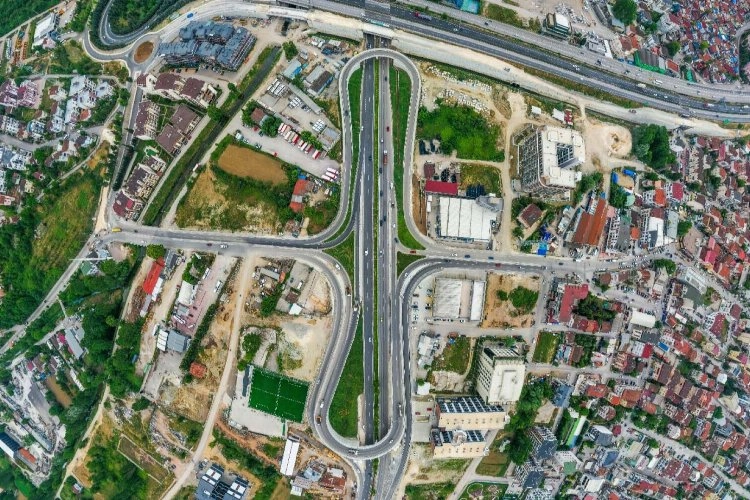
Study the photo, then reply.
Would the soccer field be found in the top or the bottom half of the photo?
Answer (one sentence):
It is in the bottom half that the soccer field appears.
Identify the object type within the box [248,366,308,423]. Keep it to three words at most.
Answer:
soccer field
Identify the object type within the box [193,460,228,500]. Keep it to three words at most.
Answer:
building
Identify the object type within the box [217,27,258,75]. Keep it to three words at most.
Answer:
building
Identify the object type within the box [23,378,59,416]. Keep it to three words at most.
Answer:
shed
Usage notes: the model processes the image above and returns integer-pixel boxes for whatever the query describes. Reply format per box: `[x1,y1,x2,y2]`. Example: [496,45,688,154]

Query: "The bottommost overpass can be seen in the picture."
[316,325,406,458]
